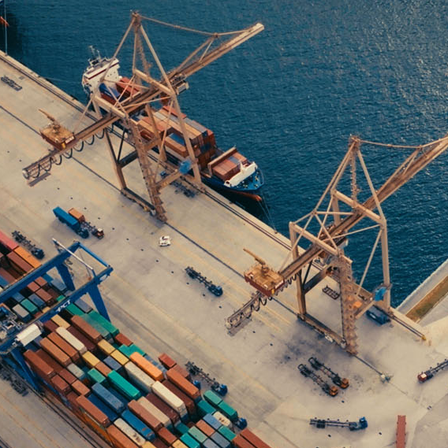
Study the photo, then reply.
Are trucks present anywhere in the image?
Yes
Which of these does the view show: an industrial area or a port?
port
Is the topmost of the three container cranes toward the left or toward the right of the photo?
left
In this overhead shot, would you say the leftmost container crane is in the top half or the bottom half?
bottom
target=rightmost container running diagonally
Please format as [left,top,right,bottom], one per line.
[360,304,394,333]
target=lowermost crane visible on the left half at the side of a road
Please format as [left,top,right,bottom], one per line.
[0,239,114,394]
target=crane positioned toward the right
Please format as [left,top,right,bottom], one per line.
[221,129,448,357]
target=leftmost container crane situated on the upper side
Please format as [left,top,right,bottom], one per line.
[14,5,263,224]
